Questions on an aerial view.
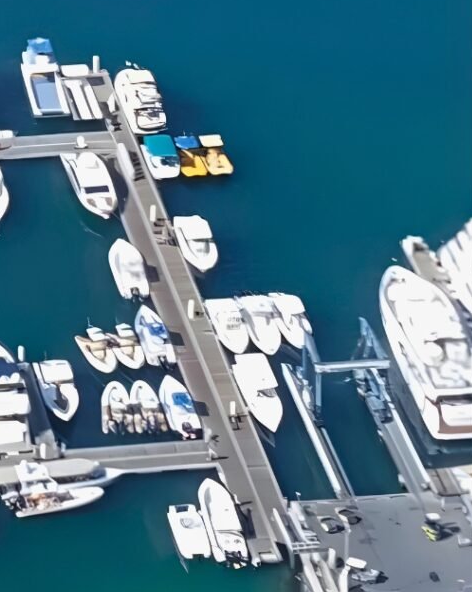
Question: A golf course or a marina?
marina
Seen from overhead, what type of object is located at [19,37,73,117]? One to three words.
boat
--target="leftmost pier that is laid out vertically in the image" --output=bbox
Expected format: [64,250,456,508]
[18,362,59,452]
